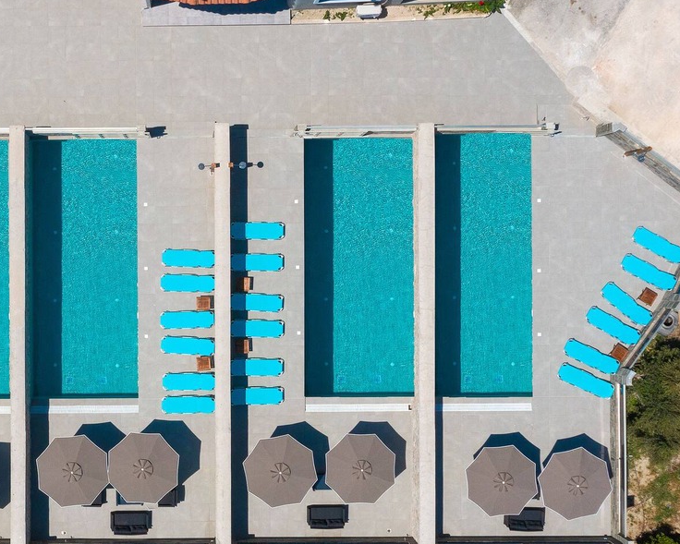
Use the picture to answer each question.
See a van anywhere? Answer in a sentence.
No, there's no van here.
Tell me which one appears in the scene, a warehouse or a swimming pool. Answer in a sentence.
I can see a swimming pool in this picture.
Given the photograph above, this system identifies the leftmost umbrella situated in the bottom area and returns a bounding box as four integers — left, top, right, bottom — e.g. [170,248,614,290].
[37,436,108,507]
